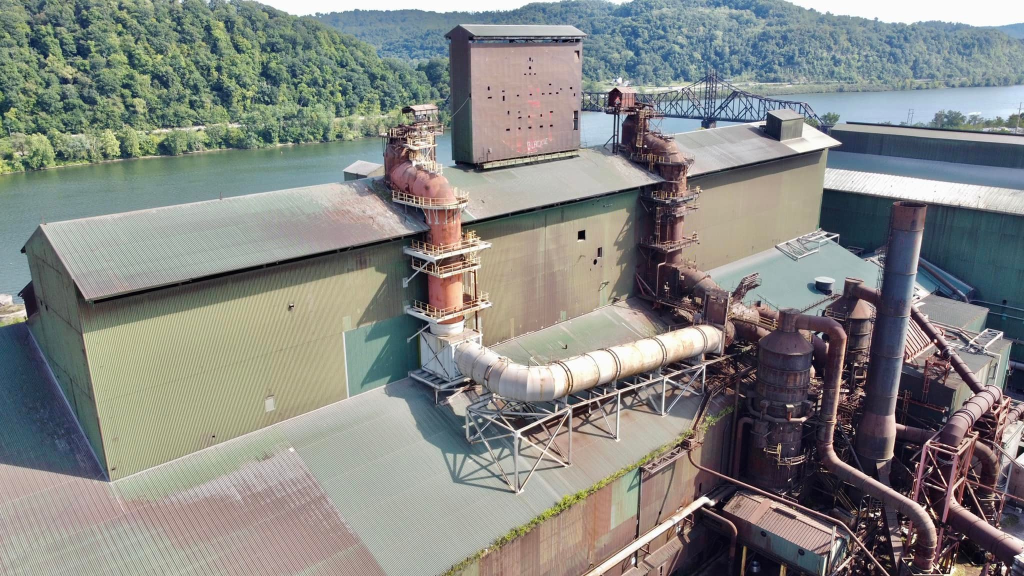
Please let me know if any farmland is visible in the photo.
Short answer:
No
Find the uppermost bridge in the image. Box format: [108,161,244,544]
[581,70,837,135]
